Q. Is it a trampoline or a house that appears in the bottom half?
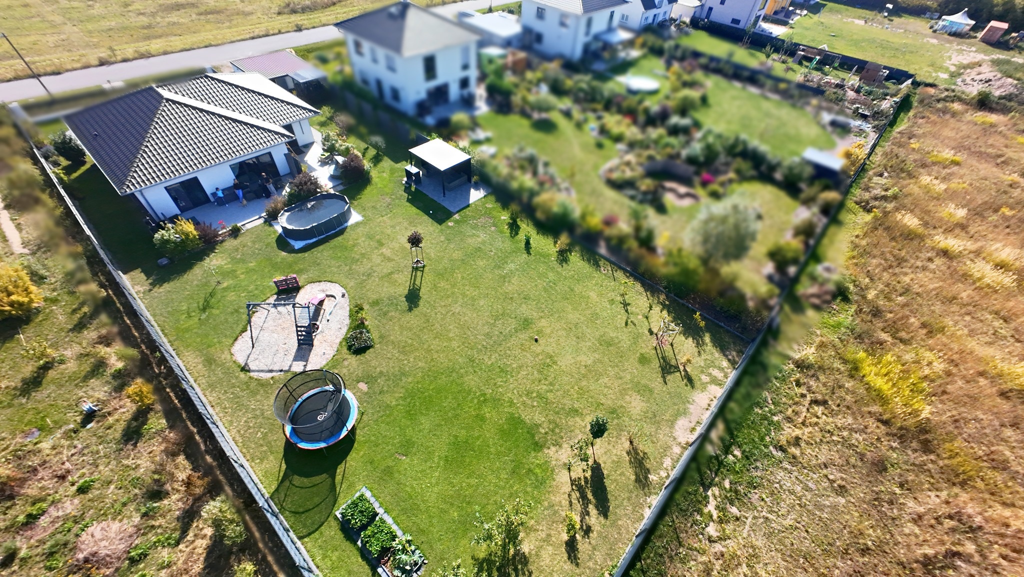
trampoline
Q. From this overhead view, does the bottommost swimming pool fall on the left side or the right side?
left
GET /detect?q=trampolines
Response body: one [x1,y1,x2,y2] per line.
[272,369,370,462]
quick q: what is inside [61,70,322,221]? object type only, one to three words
house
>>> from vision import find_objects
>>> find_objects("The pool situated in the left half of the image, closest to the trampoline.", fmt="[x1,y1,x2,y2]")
[278,193,352,242]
